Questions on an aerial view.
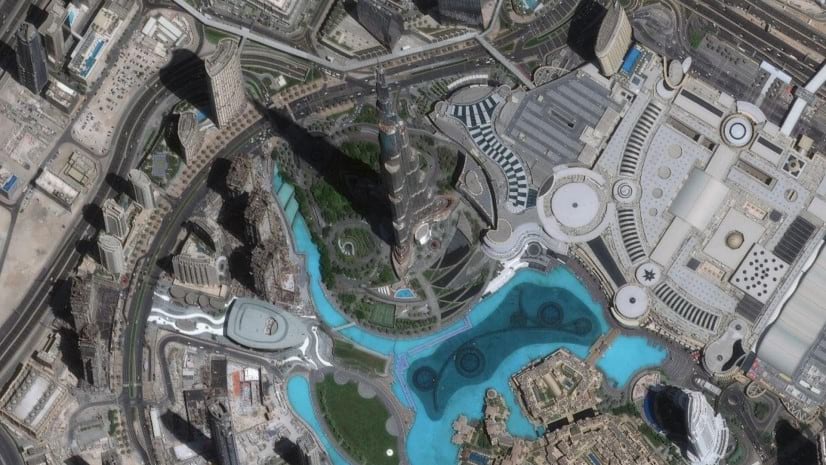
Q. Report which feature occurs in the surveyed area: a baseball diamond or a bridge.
bridge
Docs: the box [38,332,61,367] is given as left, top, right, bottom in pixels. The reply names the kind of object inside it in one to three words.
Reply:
building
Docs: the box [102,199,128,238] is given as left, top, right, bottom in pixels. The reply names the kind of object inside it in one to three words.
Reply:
building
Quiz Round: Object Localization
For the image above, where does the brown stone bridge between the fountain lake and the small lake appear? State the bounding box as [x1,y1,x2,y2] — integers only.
[582,322,622,367]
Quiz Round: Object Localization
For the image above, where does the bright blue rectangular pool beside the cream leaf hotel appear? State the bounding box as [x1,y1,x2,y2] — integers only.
[621,46,640,72]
